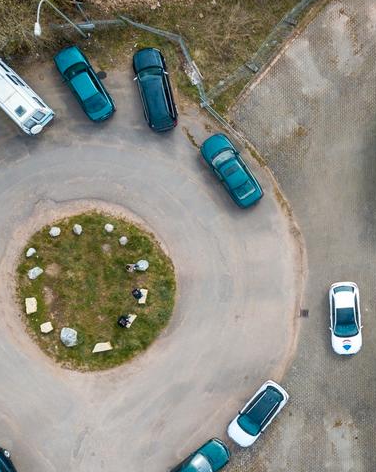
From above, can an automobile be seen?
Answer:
Yes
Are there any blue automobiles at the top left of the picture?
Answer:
Yes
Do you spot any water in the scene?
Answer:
No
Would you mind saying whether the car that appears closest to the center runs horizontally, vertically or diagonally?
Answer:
diagonally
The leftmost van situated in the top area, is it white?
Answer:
Yes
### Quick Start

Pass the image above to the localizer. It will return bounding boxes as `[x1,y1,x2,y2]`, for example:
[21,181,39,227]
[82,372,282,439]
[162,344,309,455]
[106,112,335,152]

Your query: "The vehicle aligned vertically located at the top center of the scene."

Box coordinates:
[132,49,179,132]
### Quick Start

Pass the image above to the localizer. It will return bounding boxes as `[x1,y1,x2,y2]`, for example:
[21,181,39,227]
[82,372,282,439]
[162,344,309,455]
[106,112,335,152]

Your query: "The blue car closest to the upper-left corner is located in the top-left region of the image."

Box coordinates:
[58,49,116,121]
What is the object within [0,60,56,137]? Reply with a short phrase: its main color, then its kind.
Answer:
white van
